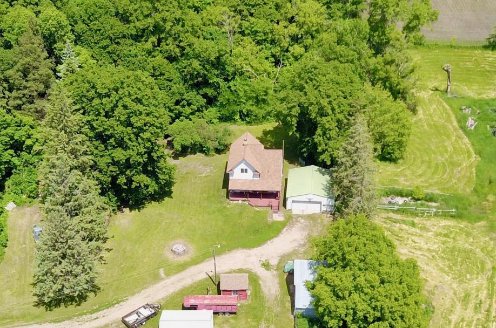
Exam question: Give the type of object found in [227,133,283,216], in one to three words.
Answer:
house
